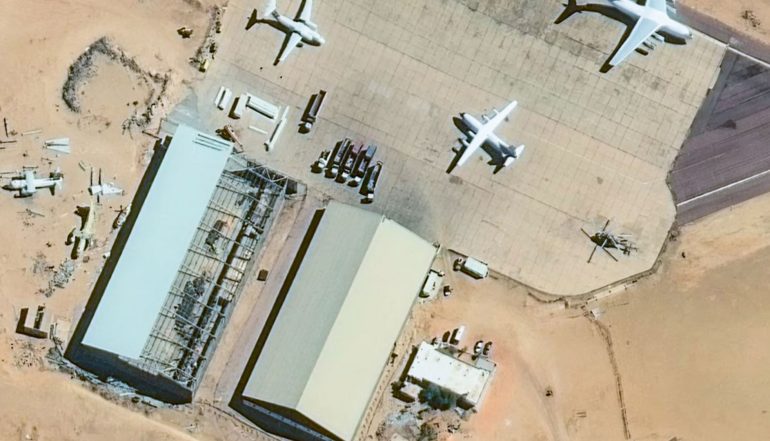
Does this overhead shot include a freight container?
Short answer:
Yes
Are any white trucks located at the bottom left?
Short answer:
No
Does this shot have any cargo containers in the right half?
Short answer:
No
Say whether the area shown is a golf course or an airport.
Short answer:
airport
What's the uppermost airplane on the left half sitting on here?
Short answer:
apron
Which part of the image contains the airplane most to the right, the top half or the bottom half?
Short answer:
top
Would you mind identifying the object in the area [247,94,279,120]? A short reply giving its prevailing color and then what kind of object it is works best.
white shipping container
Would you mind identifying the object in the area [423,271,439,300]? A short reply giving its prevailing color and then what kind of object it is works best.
white vehicle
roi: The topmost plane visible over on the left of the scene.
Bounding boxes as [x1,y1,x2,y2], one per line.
[267,0,325,59]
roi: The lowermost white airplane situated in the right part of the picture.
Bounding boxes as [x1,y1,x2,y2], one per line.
[458,97,526,168]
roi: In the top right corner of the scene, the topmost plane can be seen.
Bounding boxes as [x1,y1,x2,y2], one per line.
[608,0,693,62]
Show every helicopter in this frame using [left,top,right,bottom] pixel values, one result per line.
[587,212,636,256]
